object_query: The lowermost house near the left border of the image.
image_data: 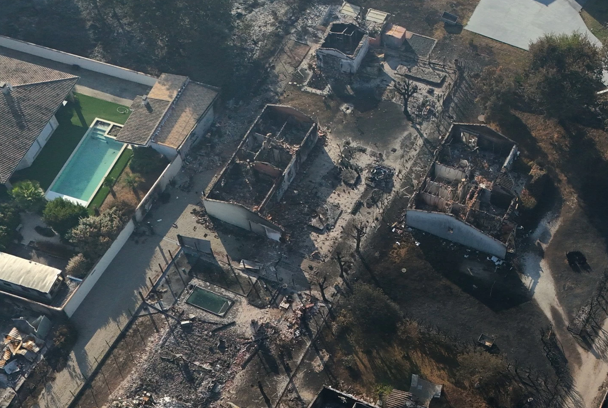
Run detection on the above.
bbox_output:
[0,254,70,305]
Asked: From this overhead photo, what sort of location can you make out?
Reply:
residential area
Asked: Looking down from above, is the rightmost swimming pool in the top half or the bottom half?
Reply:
bottom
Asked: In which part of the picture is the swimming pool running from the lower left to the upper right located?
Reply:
left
